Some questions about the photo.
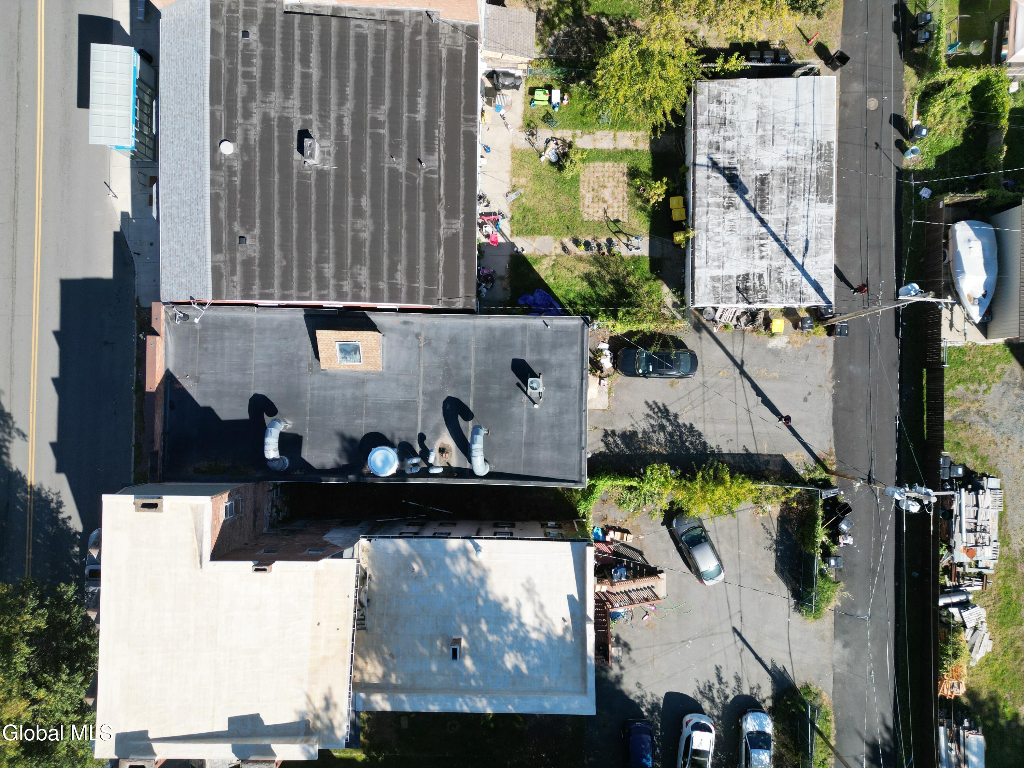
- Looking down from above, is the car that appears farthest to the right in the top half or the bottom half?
bottom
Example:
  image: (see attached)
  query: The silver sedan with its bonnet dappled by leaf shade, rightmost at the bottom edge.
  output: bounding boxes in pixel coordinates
[736,704,775,768]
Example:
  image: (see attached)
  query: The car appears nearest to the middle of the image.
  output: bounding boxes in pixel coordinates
[616,345,699,383]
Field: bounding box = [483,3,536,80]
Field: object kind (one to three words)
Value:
shed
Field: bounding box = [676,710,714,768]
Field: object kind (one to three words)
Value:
car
